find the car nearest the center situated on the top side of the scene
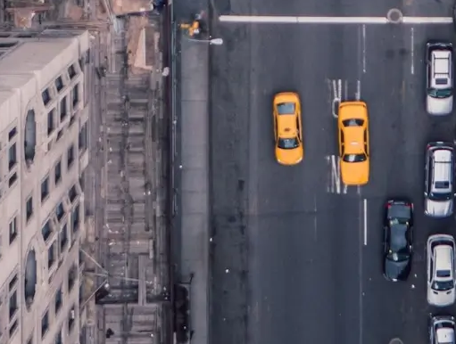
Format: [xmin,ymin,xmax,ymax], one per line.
[272,89,306,165]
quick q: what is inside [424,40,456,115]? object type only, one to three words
car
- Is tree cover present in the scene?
No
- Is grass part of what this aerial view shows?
No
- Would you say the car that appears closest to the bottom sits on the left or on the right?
right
